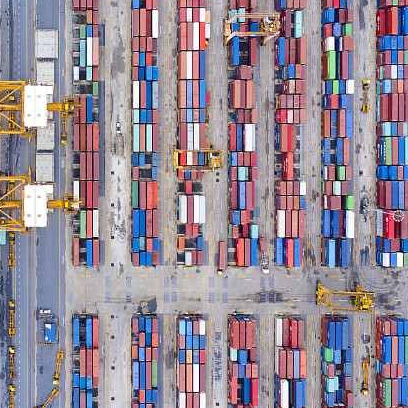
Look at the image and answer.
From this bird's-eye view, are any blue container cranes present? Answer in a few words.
No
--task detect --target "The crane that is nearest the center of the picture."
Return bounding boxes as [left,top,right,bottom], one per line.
[173,145,224,174]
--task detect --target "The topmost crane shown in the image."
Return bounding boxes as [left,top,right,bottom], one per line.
[224,12,279,47]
